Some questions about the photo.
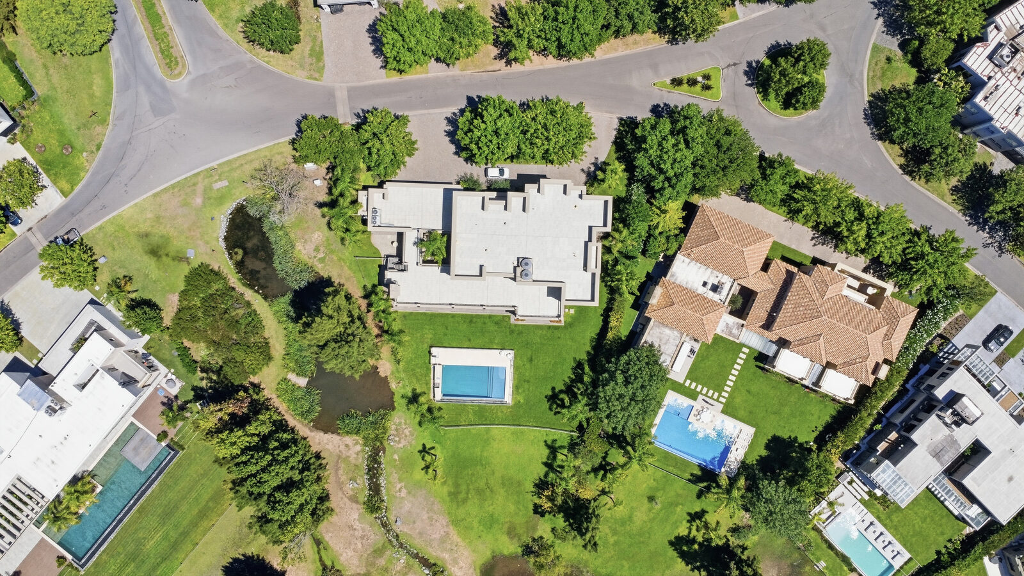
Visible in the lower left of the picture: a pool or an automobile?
pool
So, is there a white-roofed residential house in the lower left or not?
Yes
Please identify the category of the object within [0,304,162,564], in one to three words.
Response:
house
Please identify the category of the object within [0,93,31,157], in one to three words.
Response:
house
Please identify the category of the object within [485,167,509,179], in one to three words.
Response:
vehicle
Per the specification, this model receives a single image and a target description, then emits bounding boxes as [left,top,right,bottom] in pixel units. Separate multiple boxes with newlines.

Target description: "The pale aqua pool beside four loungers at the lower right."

[814,486,912,576]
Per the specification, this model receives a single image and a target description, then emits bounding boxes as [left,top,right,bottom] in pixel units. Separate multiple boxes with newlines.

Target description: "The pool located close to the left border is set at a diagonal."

[39,418,177,569]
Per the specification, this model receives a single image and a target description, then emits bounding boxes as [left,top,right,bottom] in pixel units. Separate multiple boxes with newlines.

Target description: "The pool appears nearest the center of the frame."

[431,348,514,405]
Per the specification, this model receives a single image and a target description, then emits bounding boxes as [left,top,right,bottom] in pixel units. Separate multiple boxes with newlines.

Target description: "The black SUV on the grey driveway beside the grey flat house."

[983,324,1012,351]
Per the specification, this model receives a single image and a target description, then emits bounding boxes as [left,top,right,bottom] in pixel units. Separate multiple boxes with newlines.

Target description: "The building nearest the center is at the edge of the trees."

[359,179,612,322]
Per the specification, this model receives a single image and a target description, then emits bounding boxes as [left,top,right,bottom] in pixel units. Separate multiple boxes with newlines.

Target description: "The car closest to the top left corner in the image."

[5,205,24,227]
